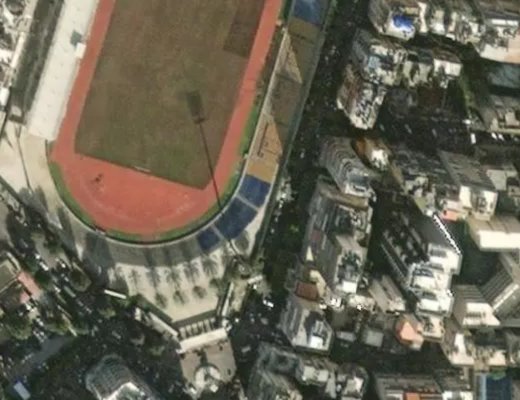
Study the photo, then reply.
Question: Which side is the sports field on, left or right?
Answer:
left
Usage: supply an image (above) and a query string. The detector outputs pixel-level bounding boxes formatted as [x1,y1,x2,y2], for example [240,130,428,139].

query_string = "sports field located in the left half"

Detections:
[75,0,261,189]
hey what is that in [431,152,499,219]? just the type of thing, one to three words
building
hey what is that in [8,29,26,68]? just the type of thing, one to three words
shed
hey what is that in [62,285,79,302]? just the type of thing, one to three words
vehicle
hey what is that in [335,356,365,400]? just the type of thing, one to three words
building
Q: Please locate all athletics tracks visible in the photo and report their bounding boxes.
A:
[49,0,282,235]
